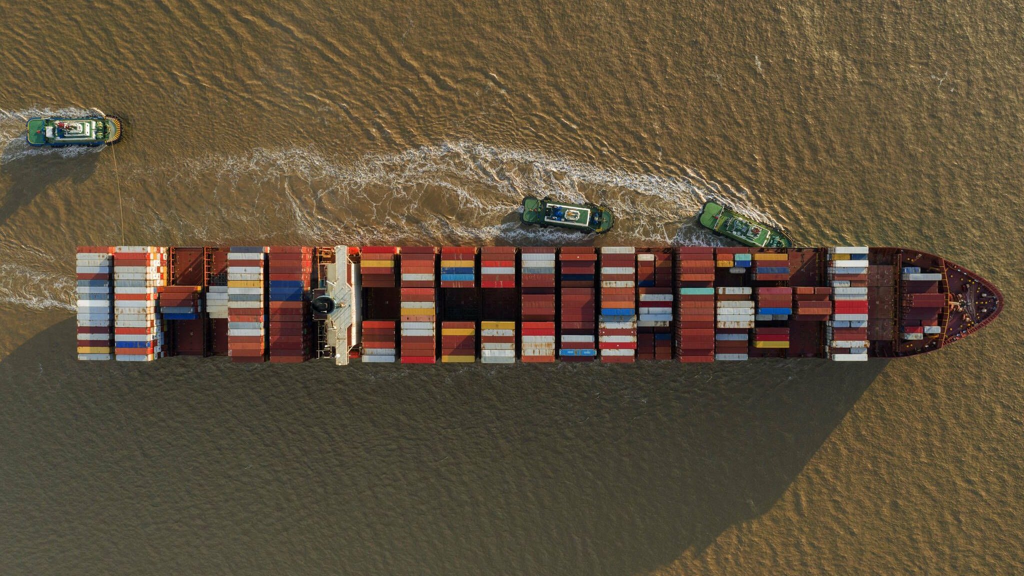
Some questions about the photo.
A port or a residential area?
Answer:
port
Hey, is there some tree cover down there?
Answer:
No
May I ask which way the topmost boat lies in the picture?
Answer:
from left to right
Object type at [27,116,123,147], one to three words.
boat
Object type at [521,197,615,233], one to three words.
boat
